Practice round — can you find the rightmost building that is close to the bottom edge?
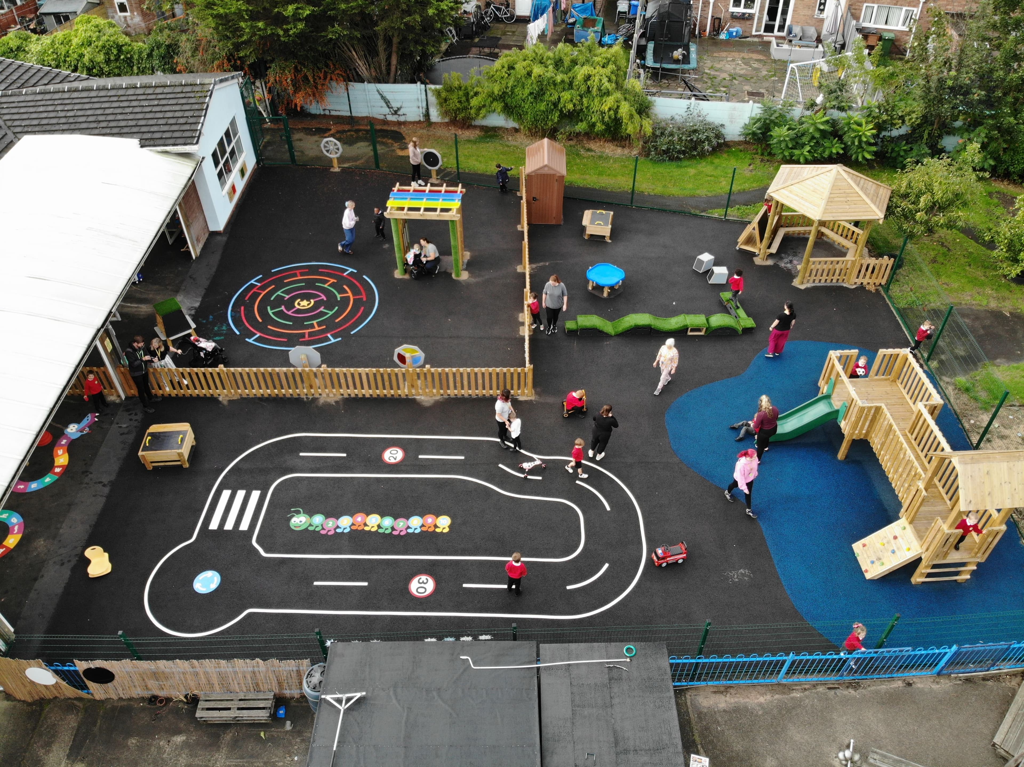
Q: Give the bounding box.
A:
[539,641,687,767]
